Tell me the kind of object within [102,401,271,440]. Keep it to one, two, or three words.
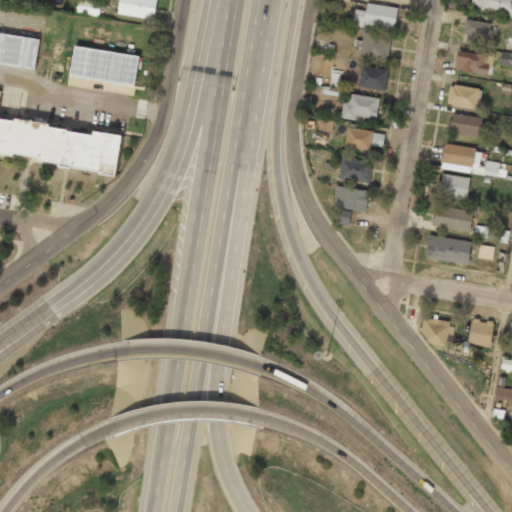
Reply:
bridge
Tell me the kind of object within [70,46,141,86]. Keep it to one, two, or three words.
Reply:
building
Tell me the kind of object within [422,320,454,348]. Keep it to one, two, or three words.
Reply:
house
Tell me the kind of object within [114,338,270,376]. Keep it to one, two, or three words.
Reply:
bridge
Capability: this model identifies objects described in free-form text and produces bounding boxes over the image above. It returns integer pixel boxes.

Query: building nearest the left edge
[0,33,41,70]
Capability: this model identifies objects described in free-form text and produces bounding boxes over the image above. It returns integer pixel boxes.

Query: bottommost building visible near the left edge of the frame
[0,118,124,176]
